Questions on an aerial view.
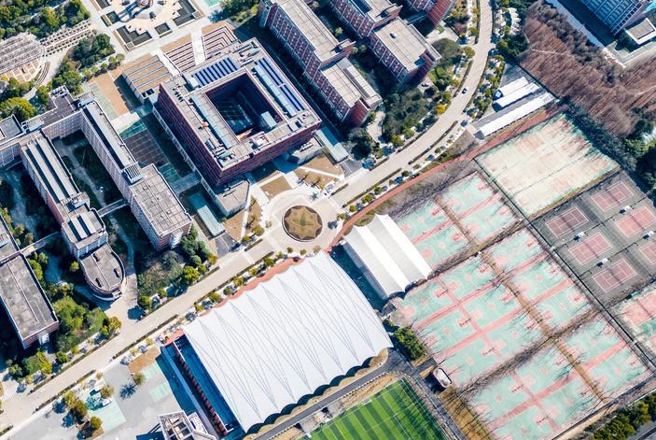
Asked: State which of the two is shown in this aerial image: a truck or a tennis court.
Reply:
tennis court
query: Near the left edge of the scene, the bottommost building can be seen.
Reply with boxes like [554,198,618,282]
[0,88,191,348]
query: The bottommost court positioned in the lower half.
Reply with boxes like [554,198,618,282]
[495,403,557,440]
